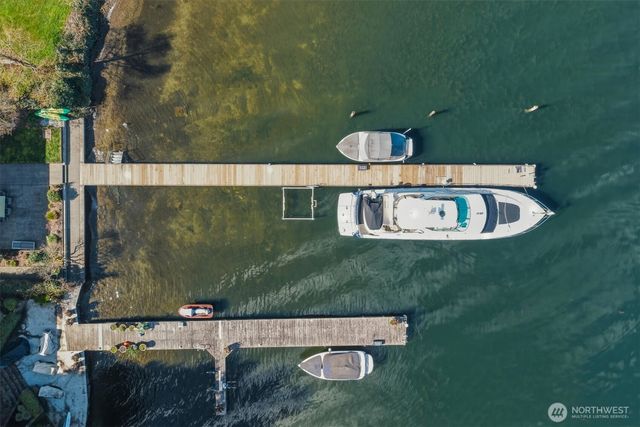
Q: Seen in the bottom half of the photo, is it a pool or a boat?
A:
boat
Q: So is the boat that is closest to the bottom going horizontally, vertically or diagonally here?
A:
horizontally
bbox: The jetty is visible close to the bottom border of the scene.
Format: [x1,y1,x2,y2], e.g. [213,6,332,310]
[63,312,408,416]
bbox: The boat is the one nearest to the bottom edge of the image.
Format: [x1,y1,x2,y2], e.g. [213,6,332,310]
[297,350,374,381]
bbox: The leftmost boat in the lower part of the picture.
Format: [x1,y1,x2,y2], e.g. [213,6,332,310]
[178,304,214,318]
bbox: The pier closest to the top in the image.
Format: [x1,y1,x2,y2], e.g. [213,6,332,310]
[81,162,537,189]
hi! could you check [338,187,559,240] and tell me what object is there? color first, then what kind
white boat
